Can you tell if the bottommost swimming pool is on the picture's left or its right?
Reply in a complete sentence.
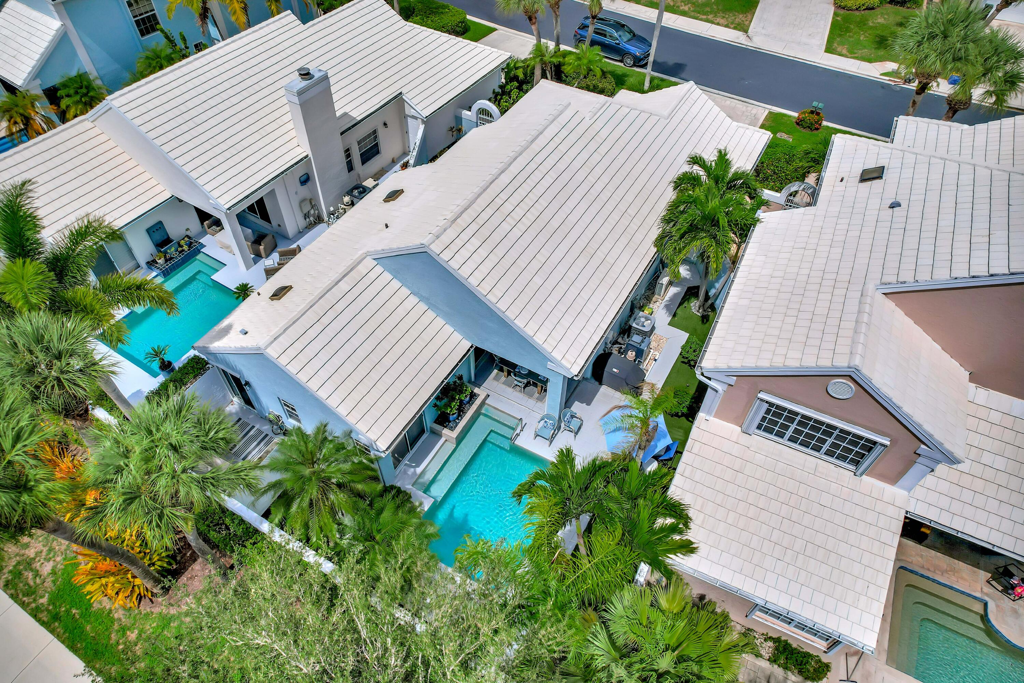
The bottommost swimming pool sits on the right side.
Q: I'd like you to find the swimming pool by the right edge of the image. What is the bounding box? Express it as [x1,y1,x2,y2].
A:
[877,560,1024,683]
